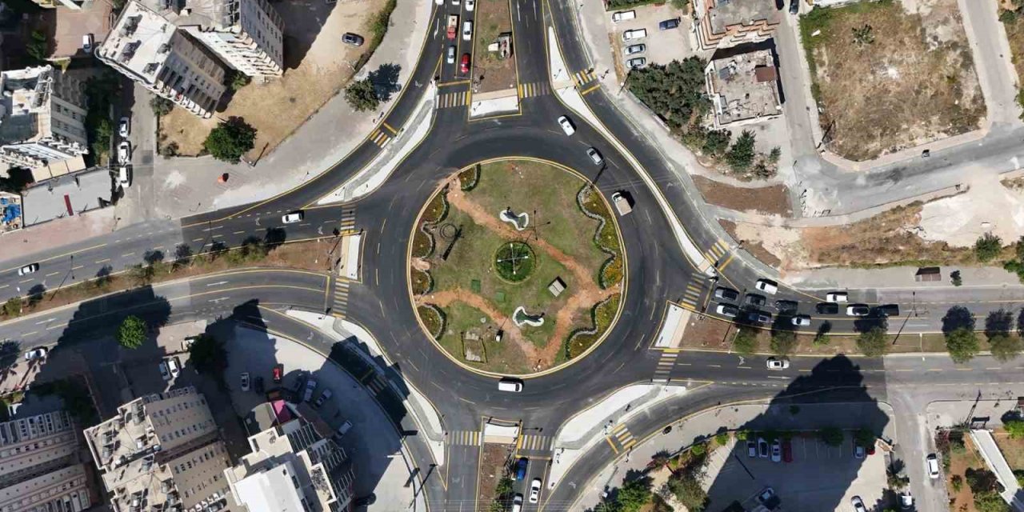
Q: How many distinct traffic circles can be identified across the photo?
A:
one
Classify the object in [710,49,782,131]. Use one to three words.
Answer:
house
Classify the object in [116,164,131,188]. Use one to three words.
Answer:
vehicle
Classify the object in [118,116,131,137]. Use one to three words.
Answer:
vehicle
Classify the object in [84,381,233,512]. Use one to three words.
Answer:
building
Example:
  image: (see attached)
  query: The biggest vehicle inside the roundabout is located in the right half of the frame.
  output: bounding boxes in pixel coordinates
[611,190,633,220]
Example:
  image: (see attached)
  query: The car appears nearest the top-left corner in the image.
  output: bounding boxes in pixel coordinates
[81,33,93,53]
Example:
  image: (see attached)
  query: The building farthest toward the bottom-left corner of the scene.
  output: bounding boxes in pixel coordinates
[0,411,97,512]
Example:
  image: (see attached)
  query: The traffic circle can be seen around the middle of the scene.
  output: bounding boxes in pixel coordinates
[352,107,681,427]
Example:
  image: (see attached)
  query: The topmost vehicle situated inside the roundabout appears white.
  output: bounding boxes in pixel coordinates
[557,116,576,136]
